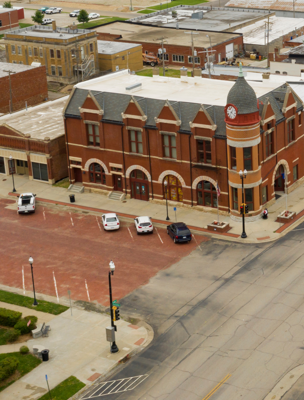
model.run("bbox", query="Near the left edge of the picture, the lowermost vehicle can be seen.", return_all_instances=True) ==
[14,193,38,213]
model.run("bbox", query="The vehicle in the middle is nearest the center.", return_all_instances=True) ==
[135,216,153,236]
